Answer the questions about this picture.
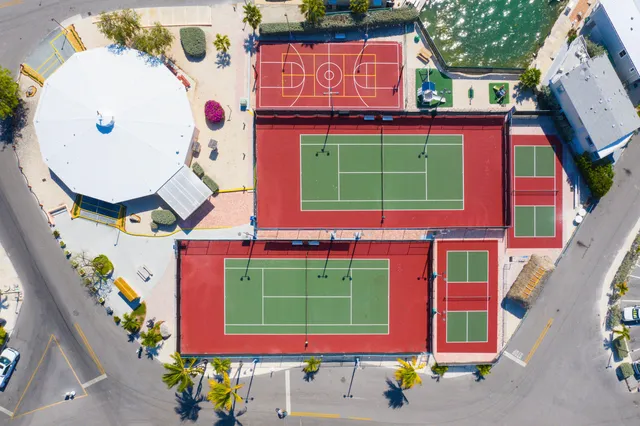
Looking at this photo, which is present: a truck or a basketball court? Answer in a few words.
basketball court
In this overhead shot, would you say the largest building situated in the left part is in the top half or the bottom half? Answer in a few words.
top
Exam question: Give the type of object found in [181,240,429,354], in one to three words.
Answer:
tennis court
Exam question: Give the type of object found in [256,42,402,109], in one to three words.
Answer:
basketball court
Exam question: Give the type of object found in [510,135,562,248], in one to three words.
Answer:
sports court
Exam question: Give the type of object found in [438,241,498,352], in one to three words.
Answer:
sports court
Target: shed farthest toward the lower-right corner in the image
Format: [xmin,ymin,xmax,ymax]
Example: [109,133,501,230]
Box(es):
[502,249,553,311]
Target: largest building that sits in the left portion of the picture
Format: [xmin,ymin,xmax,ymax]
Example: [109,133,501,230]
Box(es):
[35,46,199,206]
